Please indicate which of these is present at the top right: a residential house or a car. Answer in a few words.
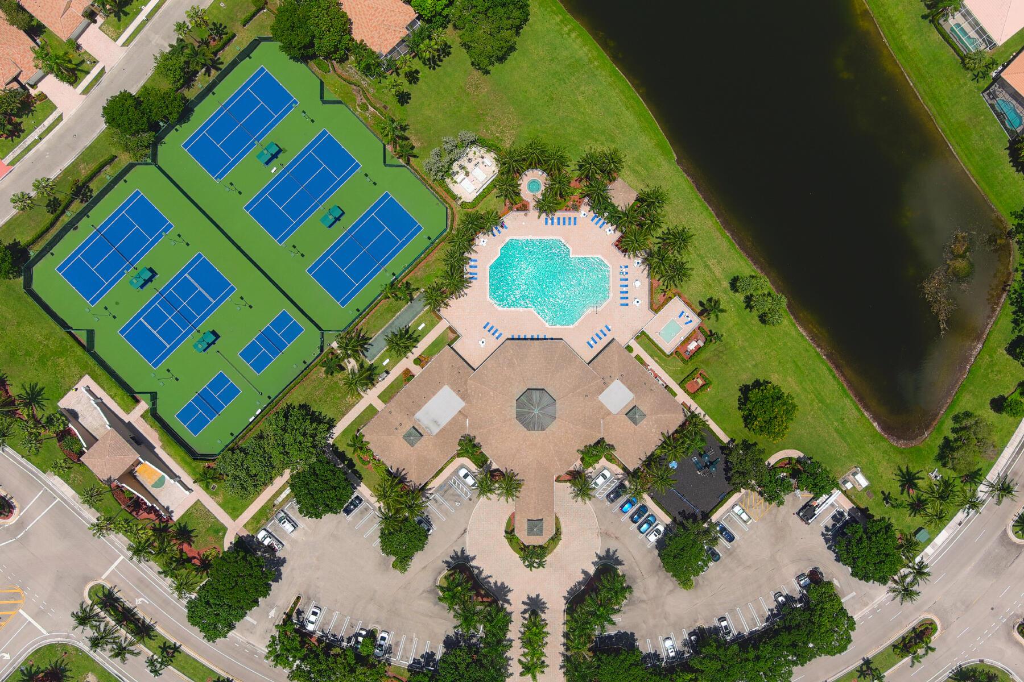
residential house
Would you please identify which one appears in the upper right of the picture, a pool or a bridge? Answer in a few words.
pool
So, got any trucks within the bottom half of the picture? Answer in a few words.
Yes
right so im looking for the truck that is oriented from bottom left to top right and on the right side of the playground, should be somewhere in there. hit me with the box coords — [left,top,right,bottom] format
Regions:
[791,493,828,531]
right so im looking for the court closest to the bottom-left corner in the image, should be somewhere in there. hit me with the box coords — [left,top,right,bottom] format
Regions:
[136,460,165,489]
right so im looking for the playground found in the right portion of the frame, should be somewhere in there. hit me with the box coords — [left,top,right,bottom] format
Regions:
[636,427,735,519]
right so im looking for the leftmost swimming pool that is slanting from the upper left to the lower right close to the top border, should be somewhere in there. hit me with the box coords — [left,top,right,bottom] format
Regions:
[949,22,979,50]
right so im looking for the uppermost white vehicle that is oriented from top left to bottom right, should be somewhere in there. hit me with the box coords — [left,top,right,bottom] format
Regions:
[458,467,477,488]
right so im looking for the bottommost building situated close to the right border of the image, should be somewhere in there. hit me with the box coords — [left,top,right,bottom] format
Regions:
[993,48,1024,110]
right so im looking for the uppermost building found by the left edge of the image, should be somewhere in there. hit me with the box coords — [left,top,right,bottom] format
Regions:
[19,0,104,42]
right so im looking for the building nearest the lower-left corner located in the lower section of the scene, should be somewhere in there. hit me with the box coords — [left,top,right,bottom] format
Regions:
[51,385,193,515]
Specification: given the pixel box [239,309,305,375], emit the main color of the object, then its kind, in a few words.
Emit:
blue sports court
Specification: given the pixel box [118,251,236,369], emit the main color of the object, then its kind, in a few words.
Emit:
blue tennis court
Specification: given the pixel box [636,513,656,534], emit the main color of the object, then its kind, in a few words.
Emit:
blue car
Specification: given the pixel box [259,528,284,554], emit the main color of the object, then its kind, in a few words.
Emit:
white vehicle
